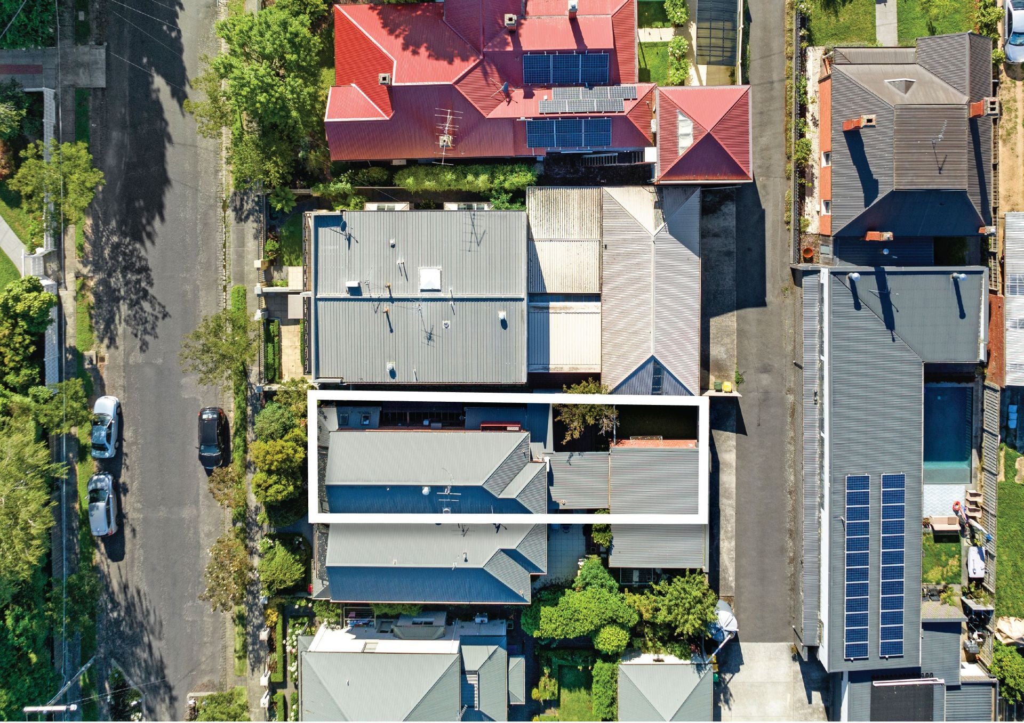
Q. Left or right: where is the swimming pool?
right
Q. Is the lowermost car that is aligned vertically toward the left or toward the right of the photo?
left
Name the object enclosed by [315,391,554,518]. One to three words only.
house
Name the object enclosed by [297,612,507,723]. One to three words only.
house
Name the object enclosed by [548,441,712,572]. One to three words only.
building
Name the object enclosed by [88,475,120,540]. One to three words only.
car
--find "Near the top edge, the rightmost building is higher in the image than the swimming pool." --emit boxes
[819,31,998,241]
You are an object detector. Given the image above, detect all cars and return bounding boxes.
[196,407,229,469]
[1001,2,1024,65]
[88,475,120,540]
[89,397,123,460]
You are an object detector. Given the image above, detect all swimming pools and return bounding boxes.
[923,382,975,488]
